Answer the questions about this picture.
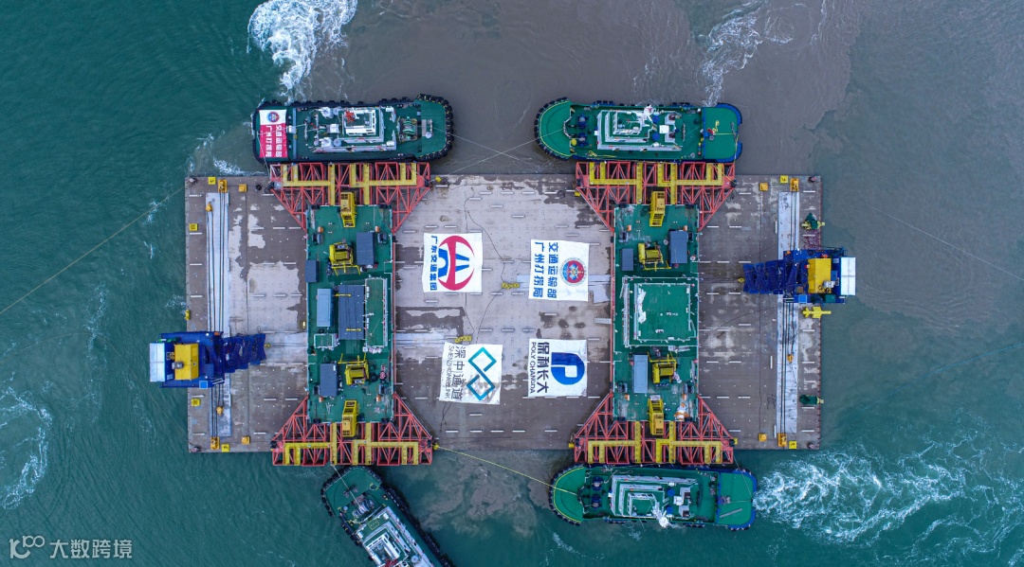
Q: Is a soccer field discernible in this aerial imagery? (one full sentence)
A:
No, there appears to be no soccer field in this shot.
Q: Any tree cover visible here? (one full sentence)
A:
No, the picture contains no tree cover.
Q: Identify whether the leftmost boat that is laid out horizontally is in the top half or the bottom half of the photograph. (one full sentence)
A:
Seen from above, the leftmost boat that is laid out horizontally lies in the top half of the view.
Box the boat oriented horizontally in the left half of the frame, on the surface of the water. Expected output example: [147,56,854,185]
[250,91,454,166]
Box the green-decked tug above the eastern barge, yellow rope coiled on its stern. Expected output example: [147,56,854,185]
[535,93,744,164]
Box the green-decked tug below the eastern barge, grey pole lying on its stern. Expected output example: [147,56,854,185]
[549,460,758,529]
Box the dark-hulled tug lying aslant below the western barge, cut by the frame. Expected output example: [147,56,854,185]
[318,462,458,567]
